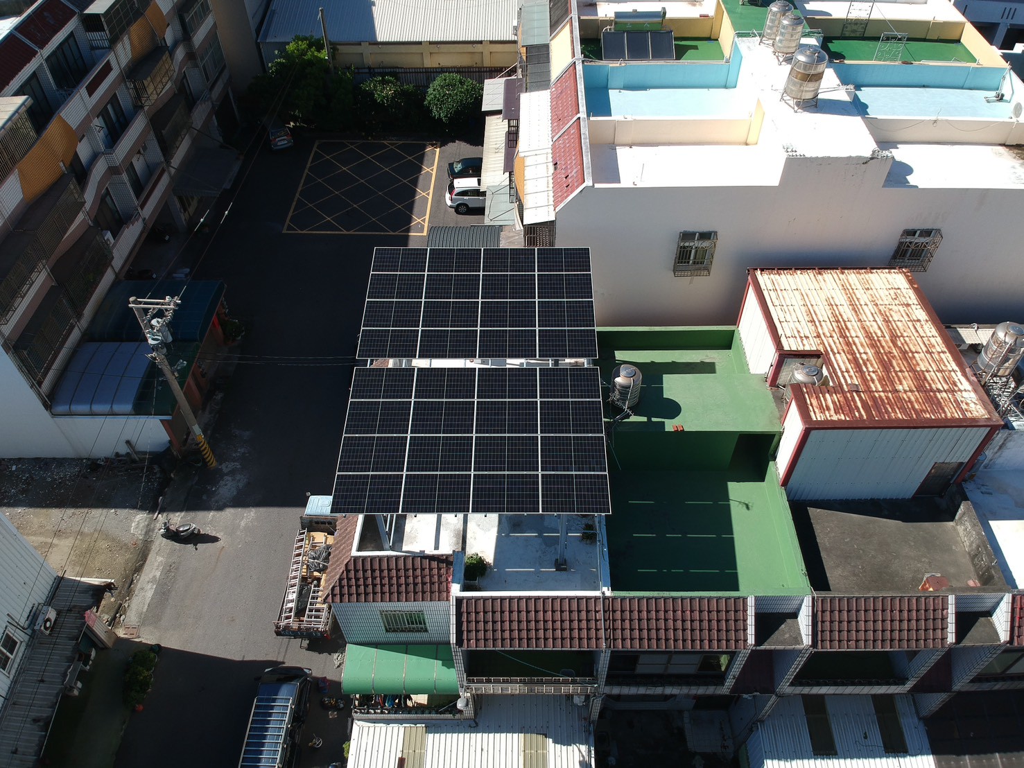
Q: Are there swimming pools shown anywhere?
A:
No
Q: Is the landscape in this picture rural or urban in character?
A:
urban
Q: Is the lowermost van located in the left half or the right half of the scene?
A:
left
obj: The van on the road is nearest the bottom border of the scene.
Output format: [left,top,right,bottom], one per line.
[238,669,318,768]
